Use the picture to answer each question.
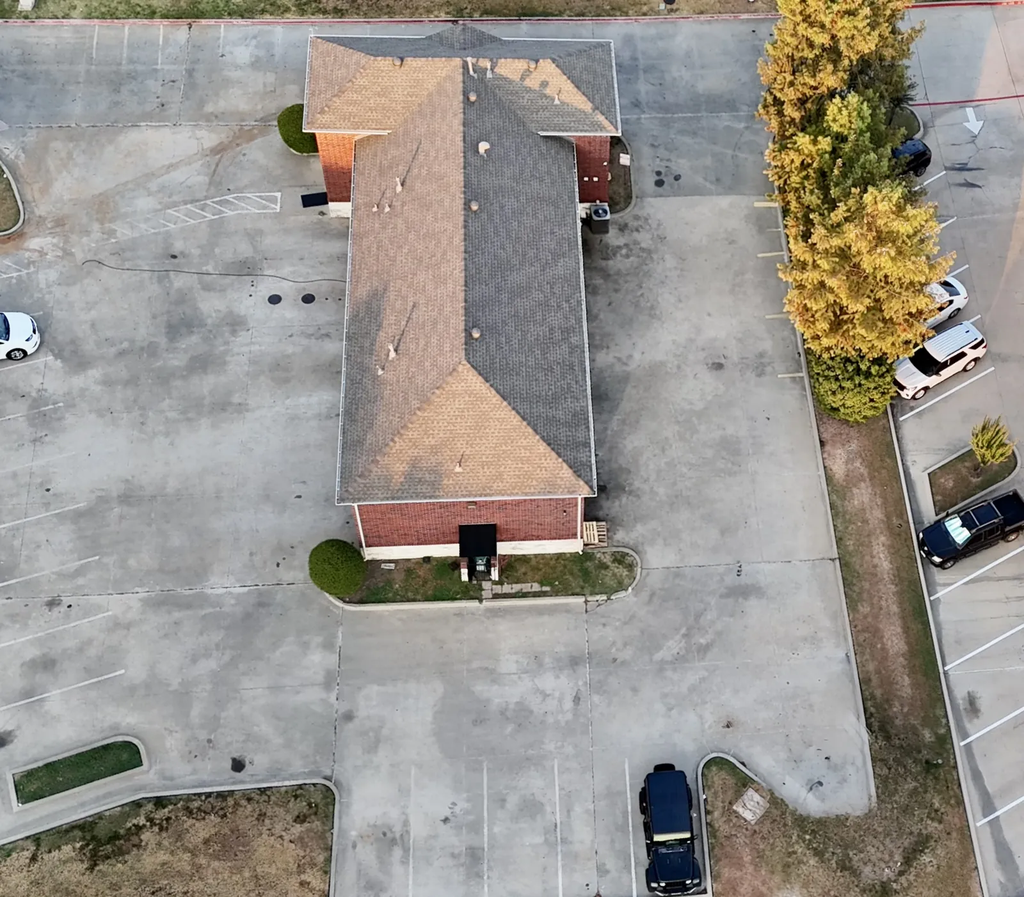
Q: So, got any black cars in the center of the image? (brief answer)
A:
No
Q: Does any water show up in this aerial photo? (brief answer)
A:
No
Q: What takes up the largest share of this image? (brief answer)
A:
paved ground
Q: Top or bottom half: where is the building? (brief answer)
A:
top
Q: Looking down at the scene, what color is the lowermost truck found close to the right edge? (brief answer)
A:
black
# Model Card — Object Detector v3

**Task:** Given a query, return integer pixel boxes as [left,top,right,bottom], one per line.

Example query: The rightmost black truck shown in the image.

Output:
[912,486,1024,570]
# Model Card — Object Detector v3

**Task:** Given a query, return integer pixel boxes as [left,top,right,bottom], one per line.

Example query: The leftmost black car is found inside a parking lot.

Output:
[639,760,699,892]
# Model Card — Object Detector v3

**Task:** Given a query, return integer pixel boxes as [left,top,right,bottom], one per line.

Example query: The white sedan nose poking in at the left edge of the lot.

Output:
[0,317,40,362]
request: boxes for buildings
[303,21,621,579]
